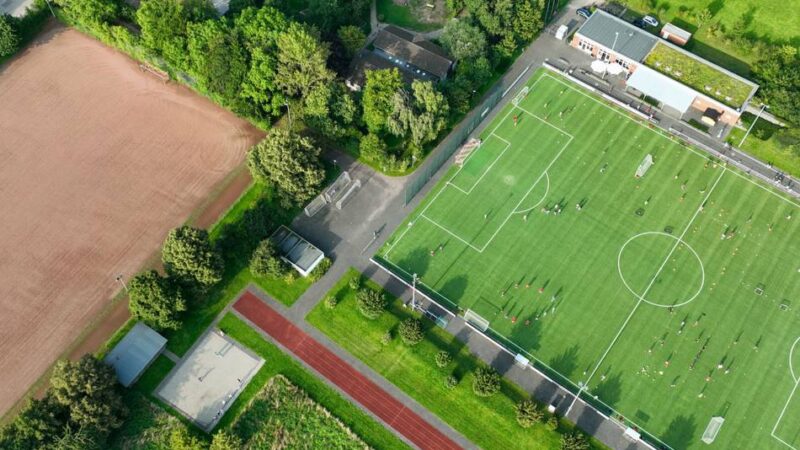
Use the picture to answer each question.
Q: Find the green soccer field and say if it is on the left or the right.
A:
right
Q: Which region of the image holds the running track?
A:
bottom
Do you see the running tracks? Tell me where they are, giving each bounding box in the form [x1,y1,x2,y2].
[231,291,464,450]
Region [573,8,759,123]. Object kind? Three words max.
building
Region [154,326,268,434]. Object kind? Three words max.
sports court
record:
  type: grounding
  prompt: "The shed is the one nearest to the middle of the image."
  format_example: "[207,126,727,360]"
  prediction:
[263,223,326,274]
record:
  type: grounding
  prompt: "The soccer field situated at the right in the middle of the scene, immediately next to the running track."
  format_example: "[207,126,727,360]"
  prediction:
[371,66,800,450]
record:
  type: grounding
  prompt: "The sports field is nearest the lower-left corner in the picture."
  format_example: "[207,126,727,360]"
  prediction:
[0,27,271,431]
